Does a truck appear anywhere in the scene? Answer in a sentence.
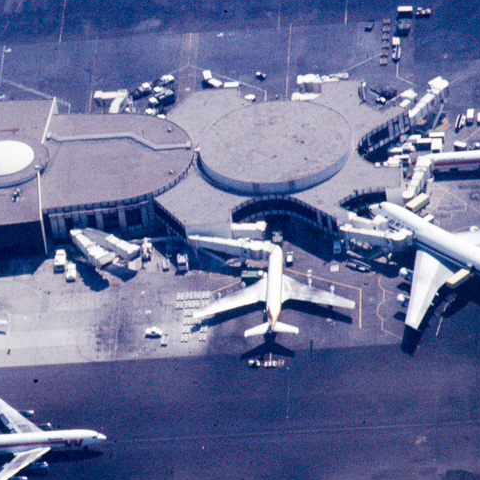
Yes, I can see a truck in this picture.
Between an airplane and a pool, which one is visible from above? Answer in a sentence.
The image shows an airplane.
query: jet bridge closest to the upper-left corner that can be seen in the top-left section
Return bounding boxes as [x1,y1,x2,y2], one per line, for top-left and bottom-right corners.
[89,91,129,115]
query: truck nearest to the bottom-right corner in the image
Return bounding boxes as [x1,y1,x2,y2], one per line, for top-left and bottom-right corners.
[441,272,474,304]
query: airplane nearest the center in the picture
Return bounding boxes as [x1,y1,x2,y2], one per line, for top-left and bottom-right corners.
[194,248,358,342]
